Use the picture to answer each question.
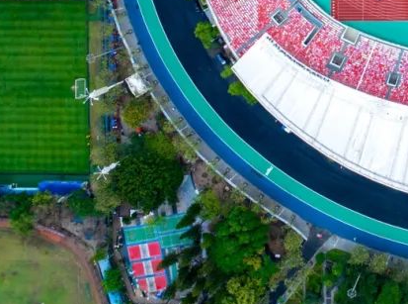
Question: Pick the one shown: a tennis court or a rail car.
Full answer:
The image shows a tennis court.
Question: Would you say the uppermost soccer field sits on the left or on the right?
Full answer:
You can find the uppermost soccer field on the left side of the picture.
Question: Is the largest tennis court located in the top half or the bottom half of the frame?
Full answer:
The largest tennis court is in the bottom half of the image.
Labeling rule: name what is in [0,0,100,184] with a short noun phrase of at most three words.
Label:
soccer field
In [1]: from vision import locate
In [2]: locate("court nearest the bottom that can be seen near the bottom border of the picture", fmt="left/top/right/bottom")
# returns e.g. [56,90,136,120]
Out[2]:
[136,274,170,294]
